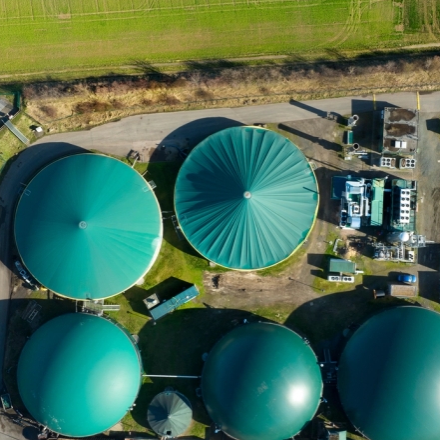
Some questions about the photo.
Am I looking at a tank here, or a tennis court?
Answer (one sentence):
The one in the frame is a tank.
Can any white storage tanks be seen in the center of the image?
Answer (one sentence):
No, no white storage tank appears in the center of the image.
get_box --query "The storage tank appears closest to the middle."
[171,126,319,270]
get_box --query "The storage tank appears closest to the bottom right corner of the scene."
[334,302,440,440]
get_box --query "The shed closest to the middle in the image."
[150,284,202,319]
